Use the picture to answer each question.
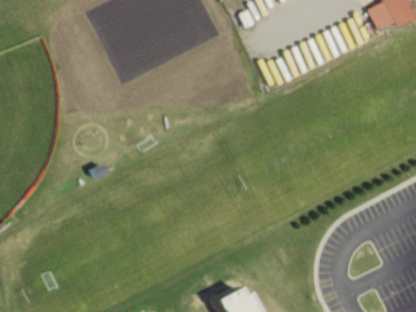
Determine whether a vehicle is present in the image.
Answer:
Yes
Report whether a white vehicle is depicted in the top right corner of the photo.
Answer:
Yes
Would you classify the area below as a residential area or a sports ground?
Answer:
sports ground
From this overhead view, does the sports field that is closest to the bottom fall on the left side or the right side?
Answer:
left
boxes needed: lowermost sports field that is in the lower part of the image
[0,134,268,312]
